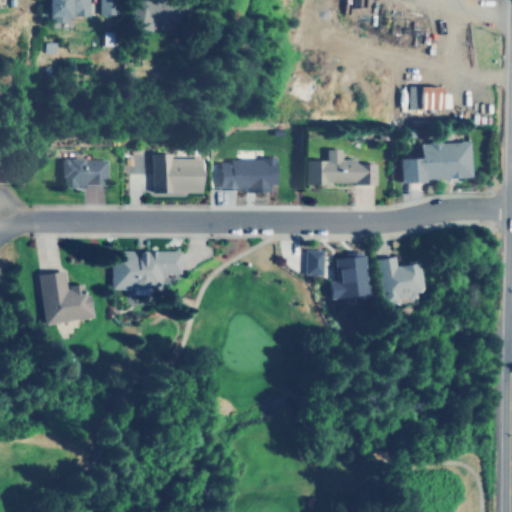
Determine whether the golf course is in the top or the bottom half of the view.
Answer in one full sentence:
The bottom half of the photo is where the golf course is.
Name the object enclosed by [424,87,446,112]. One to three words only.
shed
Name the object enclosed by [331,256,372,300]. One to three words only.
house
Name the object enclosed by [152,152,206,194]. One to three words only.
house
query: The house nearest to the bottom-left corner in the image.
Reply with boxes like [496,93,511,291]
[37,270,94,325]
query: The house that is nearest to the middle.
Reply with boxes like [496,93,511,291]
[306,250,324,276]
